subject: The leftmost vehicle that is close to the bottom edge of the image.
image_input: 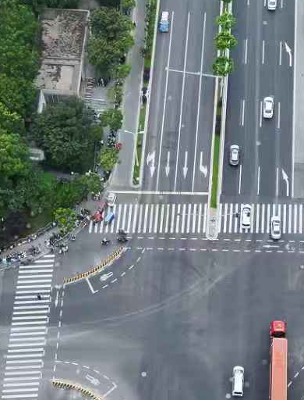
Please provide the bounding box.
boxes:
[232,366,246,398]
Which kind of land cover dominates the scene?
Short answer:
paved ground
